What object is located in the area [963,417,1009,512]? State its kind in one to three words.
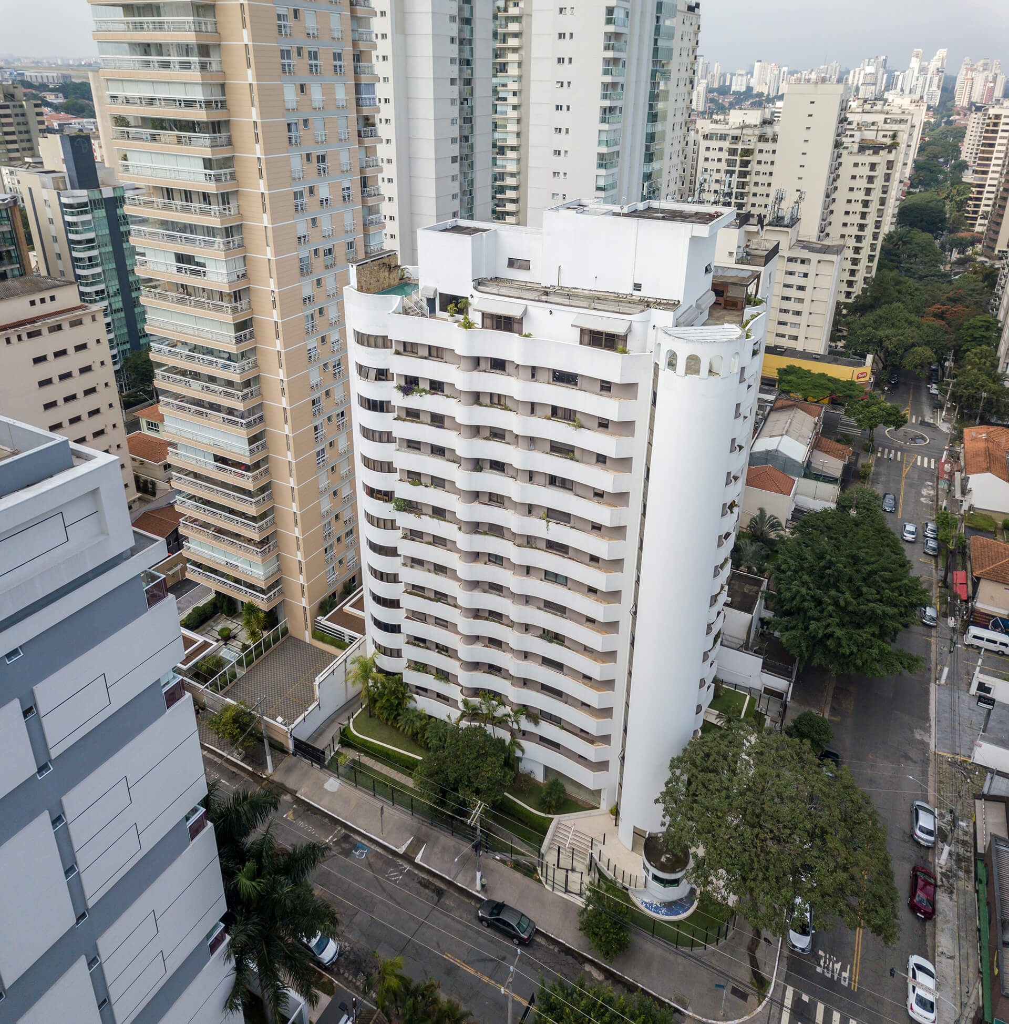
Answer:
house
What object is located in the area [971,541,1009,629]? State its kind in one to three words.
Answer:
house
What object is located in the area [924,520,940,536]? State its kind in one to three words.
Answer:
car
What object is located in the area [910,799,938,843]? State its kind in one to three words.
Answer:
car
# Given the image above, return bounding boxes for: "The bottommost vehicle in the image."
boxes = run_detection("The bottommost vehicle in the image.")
[908,955,942,1021]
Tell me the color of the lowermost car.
white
